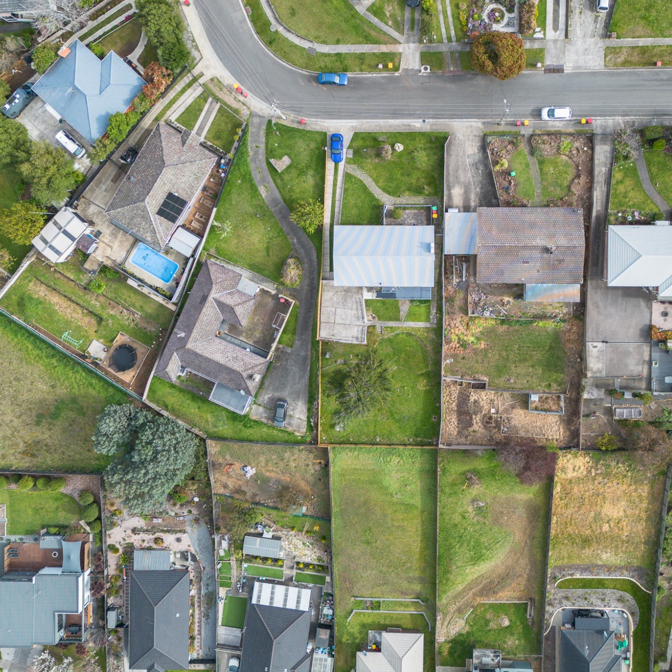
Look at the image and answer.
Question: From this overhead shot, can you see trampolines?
Yes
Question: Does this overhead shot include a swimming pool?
Yes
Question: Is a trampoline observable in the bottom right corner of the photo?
No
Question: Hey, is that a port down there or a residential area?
residential area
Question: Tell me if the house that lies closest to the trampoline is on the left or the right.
left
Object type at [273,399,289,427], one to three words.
car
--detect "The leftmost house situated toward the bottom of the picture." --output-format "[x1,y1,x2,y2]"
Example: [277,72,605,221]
[0,537,97,649]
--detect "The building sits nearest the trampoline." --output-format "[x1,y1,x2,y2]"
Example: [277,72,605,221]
[151,259,270,415]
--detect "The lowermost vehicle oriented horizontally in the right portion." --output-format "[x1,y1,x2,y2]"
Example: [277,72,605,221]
[540,106,572,121]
